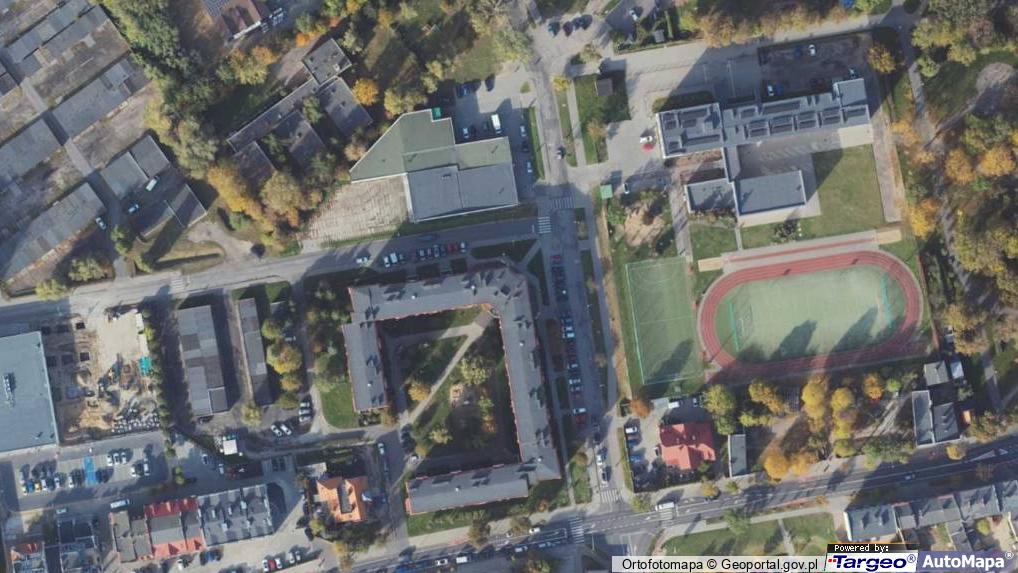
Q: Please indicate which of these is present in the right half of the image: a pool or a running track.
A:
running track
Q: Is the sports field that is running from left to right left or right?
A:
right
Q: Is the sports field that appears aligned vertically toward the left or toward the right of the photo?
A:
right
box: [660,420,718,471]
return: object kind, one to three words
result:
house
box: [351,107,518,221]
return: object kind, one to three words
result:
building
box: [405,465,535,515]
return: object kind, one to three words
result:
building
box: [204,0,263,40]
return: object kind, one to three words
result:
house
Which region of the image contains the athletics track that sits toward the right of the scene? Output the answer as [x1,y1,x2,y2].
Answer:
[698,250,929,381]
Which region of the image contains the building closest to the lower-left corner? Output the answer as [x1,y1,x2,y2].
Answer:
[11,541,51,573]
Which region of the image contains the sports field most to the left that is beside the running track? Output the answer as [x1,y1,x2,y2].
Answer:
[627,257,702,383]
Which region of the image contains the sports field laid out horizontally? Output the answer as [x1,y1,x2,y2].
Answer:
[718,268,904,362]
